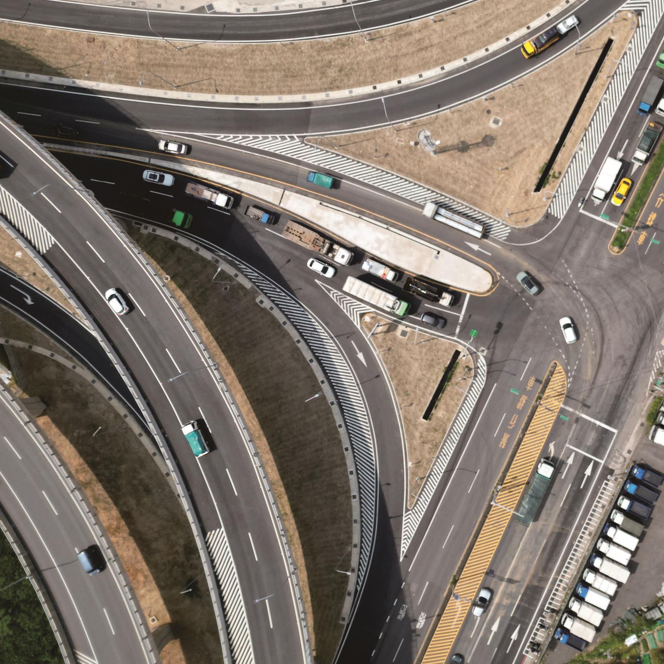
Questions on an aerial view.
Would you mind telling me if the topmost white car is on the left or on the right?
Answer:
right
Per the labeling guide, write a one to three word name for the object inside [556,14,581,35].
car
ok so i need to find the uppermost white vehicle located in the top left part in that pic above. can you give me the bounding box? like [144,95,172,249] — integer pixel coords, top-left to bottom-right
[158,139,189,154]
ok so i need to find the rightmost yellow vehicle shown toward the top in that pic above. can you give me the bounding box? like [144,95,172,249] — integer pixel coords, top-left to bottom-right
[613,177,633,206]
